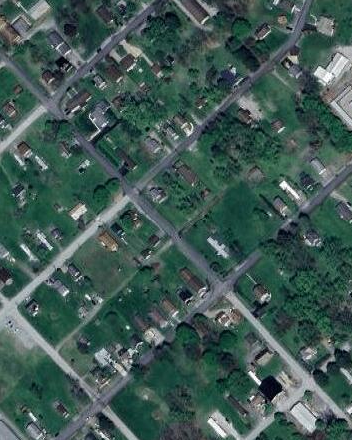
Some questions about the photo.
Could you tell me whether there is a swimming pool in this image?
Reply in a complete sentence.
No, no swimming pool is visible in the view.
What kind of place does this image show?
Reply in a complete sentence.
What you see here is a residential area.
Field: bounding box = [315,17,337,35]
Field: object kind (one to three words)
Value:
house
